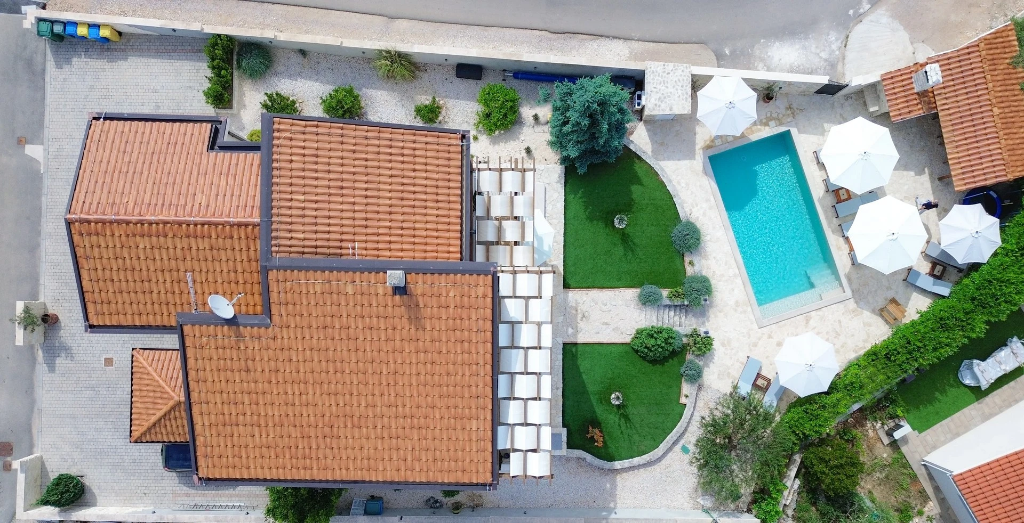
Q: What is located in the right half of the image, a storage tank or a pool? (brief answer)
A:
pool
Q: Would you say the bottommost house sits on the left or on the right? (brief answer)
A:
right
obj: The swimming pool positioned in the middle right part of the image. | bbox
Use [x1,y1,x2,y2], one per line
[698,120,856,331]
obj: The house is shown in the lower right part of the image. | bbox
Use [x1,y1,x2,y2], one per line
[922,404,1024,523]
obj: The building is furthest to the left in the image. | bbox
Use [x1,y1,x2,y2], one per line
[63,110,502,492]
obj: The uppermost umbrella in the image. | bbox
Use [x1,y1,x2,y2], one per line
[697,75,758,136]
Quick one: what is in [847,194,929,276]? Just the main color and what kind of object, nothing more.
white umbrella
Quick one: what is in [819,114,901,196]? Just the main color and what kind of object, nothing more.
white umbrella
